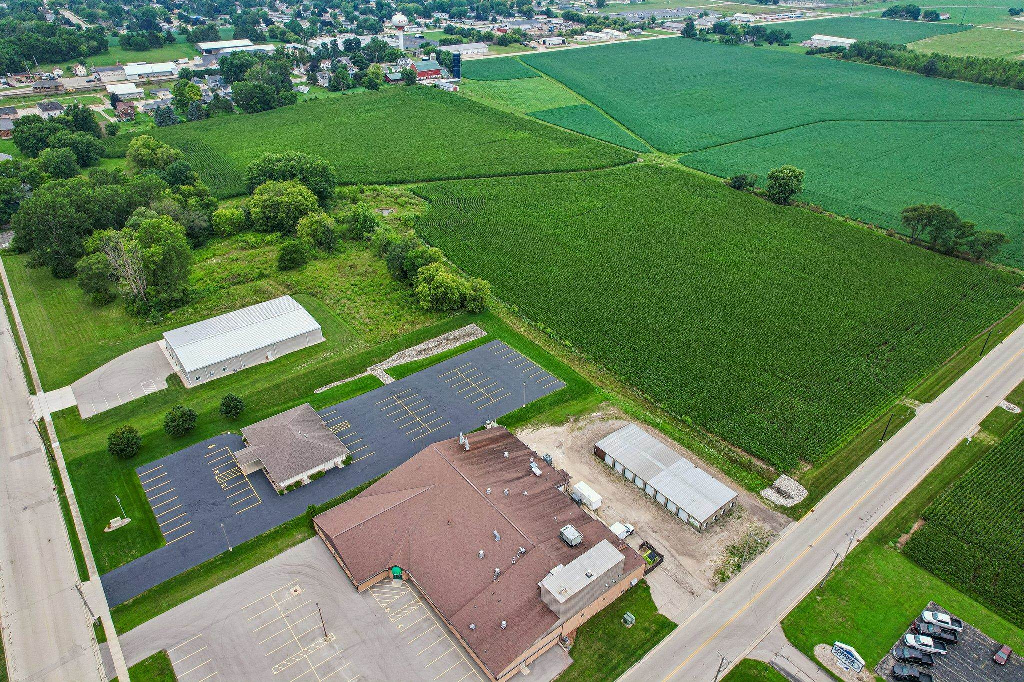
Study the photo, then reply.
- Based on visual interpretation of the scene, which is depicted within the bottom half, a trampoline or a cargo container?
cargo container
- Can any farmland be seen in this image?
Yes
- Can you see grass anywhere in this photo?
Yes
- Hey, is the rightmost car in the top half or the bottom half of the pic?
bottom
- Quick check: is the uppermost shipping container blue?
No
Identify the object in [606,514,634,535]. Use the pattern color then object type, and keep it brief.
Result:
white truck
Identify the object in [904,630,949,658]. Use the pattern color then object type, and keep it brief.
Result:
white truck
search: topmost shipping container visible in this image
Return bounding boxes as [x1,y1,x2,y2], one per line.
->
[571,475,605,510]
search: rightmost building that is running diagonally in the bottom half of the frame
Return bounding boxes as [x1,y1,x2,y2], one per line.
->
[594,422,740,531]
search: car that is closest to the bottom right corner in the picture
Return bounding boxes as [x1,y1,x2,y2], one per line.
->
[991,640,1017,668]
